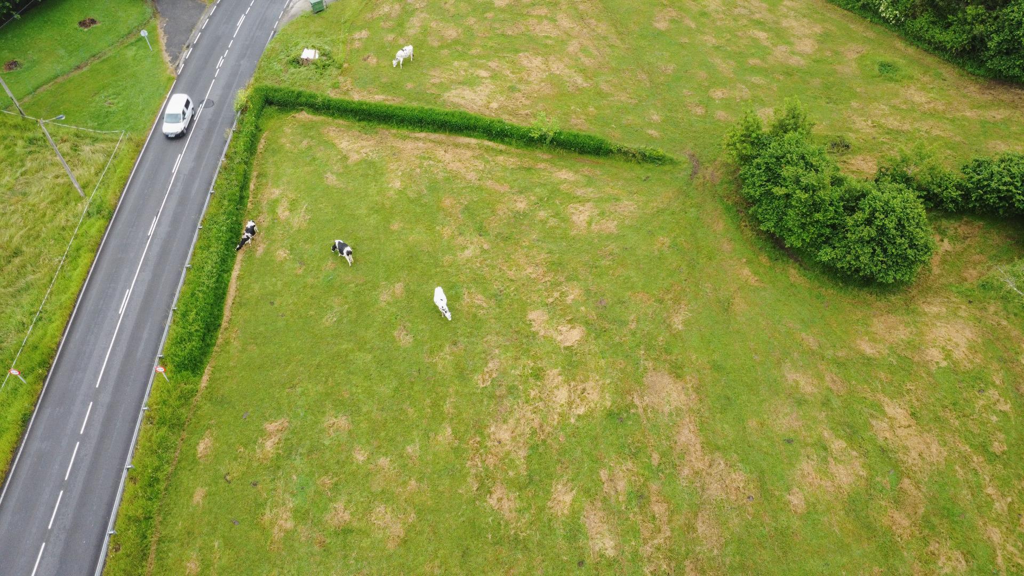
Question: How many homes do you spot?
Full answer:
The count of homes is 0.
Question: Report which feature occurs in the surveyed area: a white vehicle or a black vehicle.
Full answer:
This aerial view contains a white vehicle.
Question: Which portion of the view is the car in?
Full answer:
The car is located in the top left region of the scene.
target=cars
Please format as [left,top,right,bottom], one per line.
[158,92,194,138]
